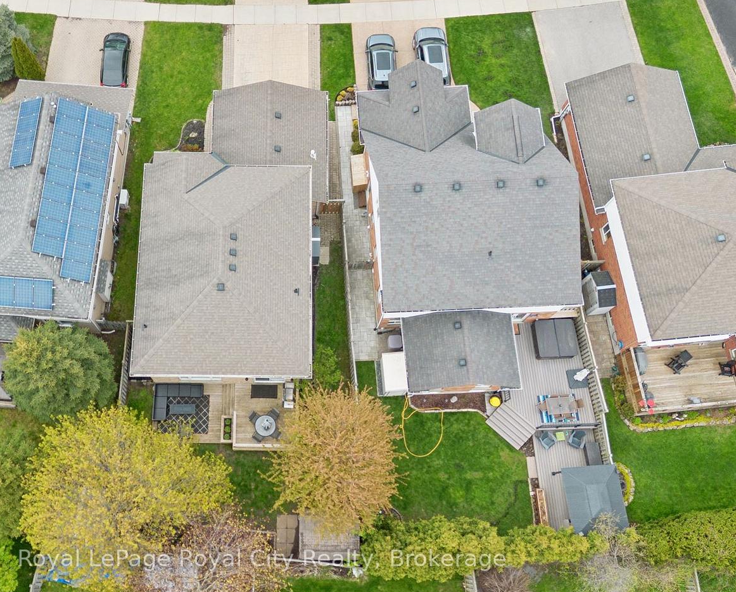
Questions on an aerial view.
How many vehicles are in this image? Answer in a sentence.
My tally gives 3 vehicles in this view.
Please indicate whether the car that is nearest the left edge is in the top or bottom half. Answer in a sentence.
The car that is nearest the left edge is in the top half of the image.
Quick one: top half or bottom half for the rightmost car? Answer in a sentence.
You can find the rightmost car in the top half.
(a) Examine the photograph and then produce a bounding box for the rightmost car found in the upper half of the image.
[412,27,455,85]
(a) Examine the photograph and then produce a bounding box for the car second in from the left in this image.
[366,36,400,91]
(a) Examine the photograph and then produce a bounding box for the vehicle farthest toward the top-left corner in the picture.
[99,33,132,88]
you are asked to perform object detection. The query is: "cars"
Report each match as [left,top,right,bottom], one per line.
[366,36,400,91]
[412,27,455,85]
[99,33,132,88]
